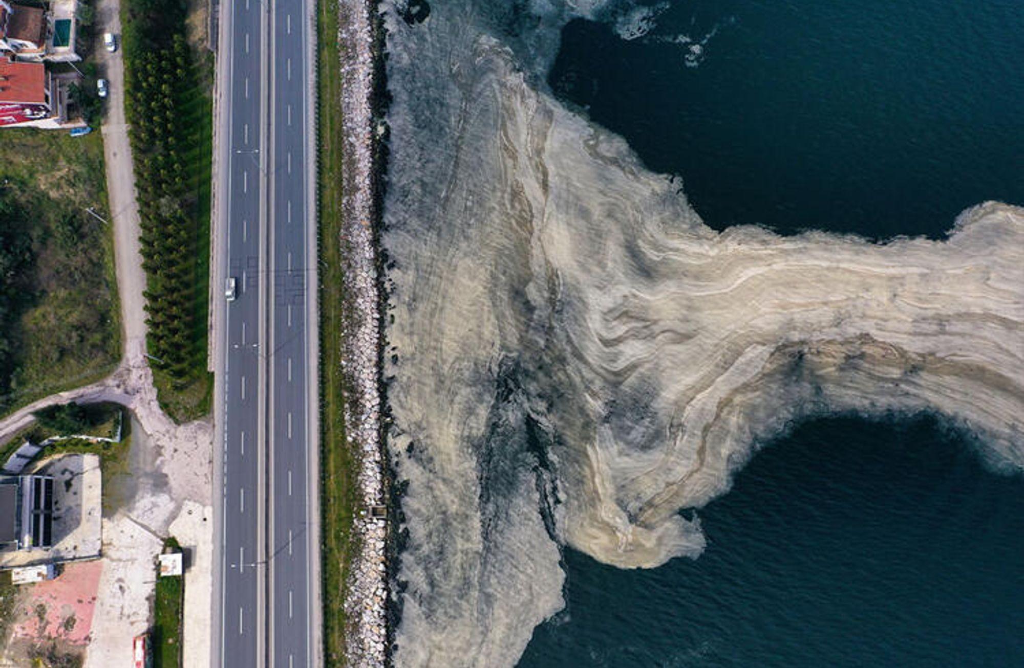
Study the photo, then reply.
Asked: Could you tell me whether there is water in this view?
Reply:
Yes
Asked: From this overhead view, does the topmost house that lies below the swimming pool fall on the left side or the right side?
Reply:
left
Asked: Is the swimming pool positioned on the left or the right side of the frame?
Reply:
left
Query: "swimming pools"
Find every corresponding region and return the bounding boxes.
[43,0,82,62]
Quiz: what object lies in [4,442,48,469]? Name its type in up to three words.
shed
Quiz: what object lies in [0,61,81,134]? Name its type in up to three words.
house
